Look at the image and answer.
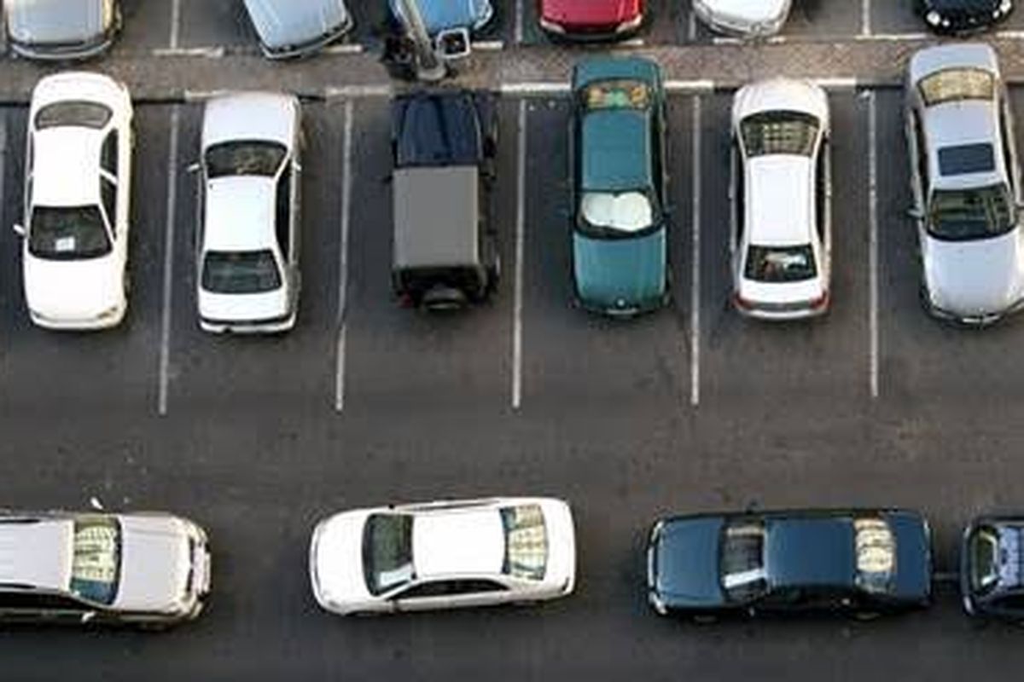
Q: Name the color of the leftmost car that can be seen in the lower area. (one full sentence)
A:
In this view, the leftmost car that can be seen in the lower area is white.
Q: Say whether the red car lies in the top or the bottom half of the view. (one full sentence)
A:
You can find the red car in the top half.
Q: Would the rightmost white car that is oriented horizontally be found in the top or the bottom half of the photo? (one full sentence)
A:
You can find the rightmost white car that is oriented horizontally in the top half.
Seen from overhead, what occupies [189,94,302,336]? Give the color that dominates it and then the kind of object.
white car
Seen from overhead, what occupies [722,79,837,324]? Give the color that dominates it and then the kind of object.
white car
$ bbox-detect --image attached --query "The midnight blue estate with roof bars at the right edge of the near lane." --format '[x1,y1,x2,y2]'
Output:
[957,512,1024,620]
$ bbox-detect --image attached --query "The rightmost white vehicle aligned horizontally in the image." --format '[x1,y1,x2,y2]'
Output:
[698,0,795,45]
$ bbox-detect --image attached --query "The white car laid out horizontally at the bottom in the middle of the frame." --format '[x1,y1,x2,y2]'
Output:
[309,494,577,615]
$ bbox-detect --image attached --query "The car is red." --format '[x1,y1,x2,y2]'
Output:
[542,0,642,45]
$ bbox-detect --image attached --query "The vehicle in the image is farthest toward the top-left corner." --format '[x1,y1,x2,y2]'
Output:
[10,0,118,62]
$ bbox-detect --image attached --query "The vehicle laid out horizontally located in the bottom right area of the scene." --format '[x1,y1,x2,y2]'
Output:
[646,498,935,617]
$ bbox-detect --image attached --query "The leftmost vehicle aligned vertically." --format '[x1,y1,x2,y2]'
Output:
[15,73,136,333]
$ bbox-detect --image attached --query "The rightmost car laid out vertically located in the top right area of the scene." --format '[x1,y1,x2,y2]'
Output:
[902,42,1024,330]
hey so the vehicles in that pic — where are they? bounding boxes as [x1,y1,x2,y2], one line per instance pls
[722,79,837,324]
[10,0,118,62]
[15,73,136,333]
[309,494,577,615]
[542,0,642,45]
[560,56,676,320]
[248,0,361,60]
[957,512,1024,620]
[189,94,302,336]
[646,498,935,617]
[422,0,495,42]
[914,0,1013,38]
[902,42,1024,330]
[698,0,795,45]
